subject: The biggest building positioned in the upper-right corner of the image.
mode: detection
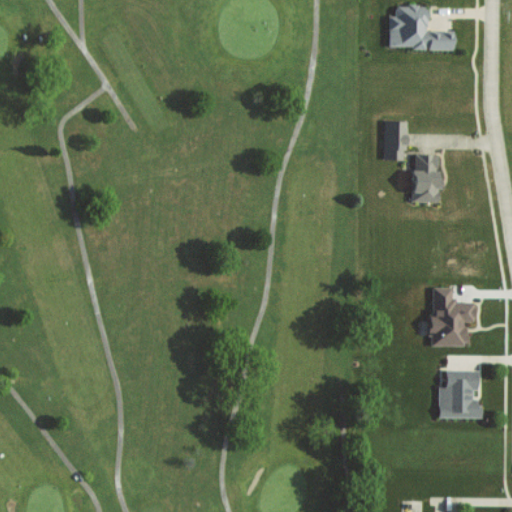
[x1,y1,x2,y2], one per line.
[390,3,458,52]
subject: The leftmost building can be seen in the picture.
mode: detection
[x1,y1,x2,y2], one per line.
[384,120,400,161]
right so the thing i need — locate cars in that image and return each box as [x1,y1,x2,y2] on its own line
[452,8,464,14]
[462,284,467,296]
[438,8,450,14]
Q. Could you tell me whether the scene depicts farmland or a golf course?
golf course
